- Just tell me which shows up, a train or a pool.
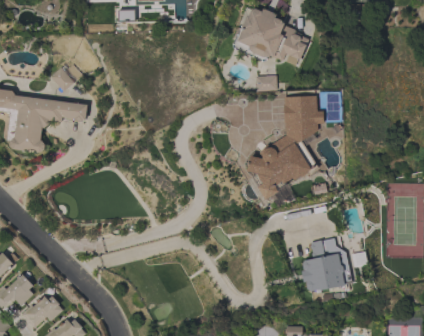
pool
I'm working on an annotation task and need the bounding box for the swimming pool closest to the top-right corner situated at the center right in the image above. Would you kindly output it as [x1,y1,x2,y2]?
[316,138,341,167]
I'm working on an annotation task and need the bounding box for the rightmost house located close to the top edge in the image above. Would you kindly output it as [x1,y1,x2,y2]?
[236,8,312,64]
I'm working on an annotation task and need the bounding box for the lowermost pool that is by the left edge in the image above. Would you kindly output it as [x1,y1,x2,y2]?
[8,52,39,66]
